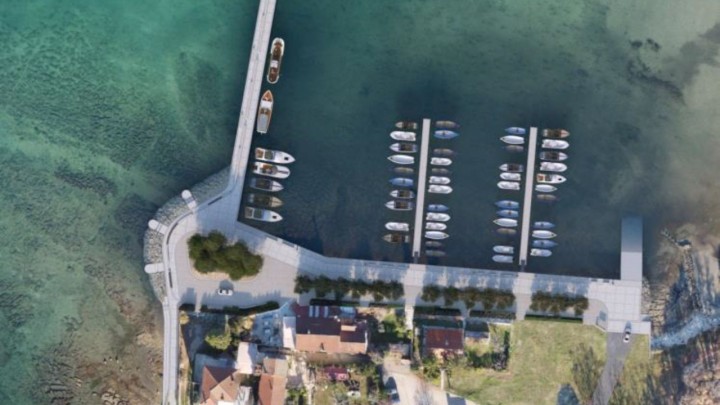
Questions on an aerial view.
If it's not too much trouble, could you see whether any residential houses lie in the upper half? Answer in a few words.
No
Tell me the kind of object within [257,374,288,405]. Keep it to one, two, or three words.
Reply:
house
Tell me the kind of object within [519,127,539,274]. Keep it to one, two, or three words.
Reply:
pier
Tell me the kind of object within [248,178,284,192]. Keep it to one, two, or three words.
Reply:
boat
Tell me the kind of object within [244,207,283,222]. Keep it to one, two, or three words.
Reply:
boat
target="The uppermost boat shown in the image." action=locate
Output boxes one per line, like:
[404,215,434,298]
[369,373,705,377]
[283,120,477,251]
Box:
[266,37,282,85]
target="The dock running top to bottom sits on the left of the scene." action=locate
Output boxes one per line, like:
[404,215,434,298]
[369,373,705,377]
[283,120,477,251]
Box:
[231,0,277,174]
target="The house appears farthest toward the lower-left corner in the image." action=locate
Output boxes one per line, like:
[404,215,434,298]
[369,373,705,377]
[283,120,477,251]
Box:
[200,365,239,405]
